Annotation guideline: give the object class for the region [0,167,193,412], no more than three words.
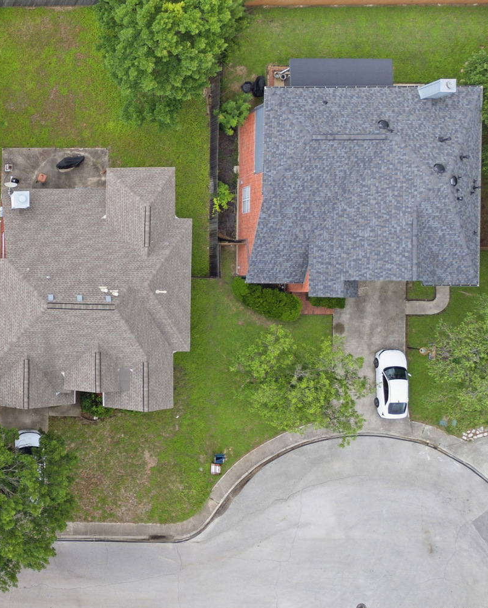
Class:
house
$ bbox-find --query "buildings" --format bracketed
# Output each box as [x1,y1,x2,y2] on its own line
[0,167,193,412]
[237,78,483,297]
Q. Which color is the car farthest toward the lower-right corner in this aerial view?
white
